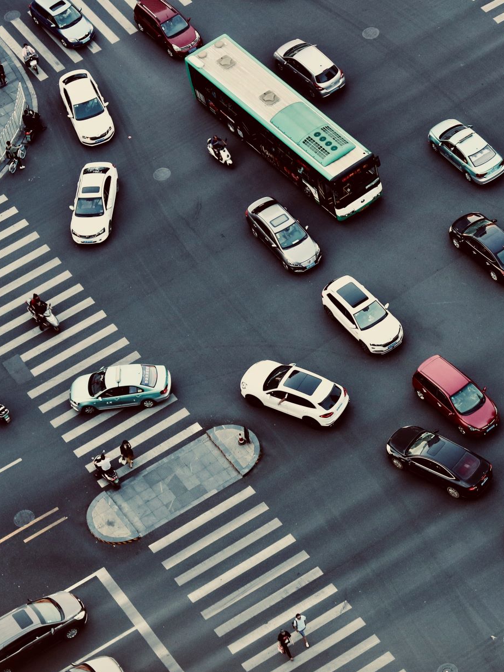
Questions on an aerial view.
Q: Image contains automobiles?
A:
Yes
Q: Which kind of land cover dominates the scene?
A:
paved ground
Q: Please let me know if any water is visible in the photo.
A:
No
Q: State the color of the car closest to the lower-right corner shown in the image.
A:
black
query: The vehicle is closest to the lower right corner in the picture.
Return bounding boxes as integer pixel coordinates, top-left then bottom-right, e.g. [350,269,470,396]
[383,426,496,499]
